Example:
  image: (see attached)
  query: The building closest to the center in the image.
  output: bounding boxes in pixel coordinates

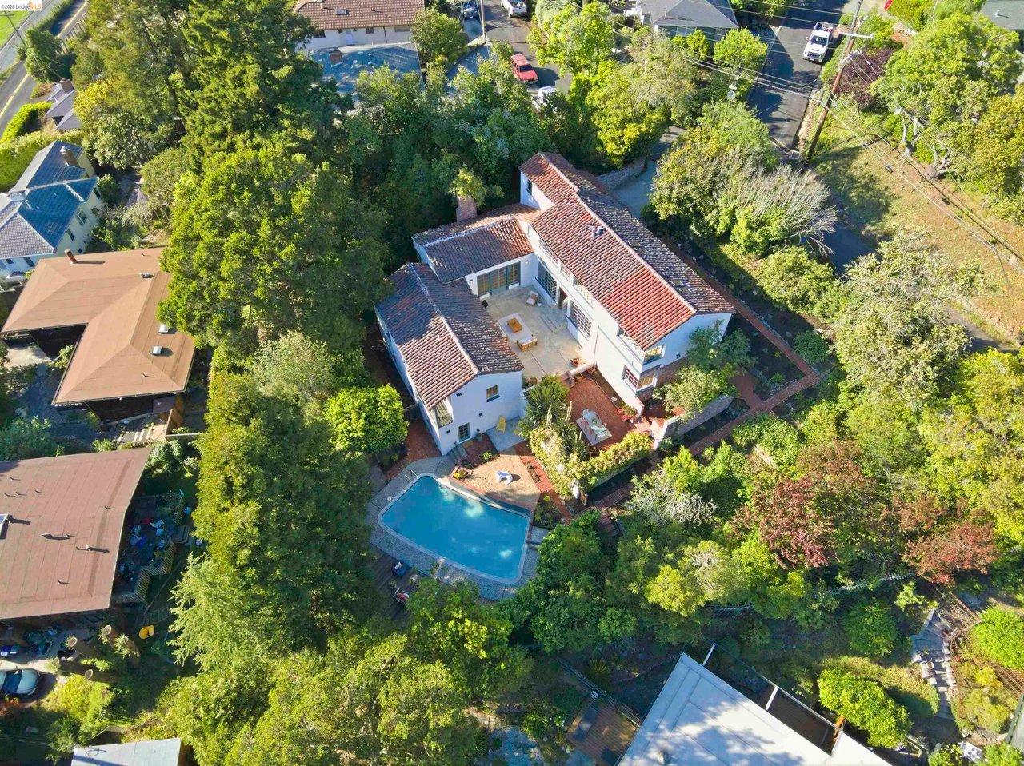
[370,145,739,460]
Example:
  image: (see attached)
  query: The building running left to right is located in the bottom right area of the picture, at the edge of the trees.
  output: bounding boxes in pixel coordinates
[615,642,893,766]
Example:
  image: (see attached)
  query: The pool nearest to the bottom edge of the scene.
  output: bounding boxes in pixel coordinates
[383,473,529,579]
